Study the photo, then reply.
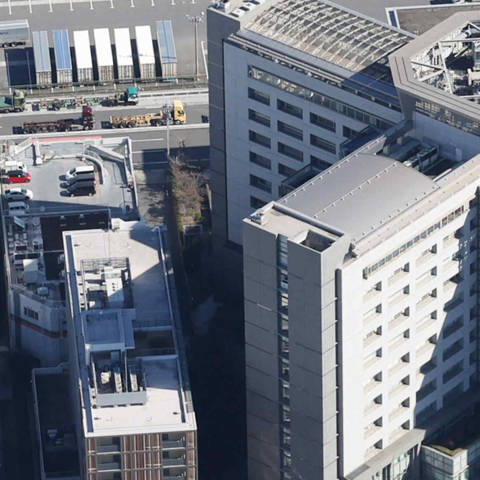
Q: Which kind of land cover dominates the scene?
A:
buildings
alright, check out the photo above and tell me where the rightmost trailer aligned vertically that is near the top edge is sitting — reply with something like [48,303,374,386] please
[155,20,177,81]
